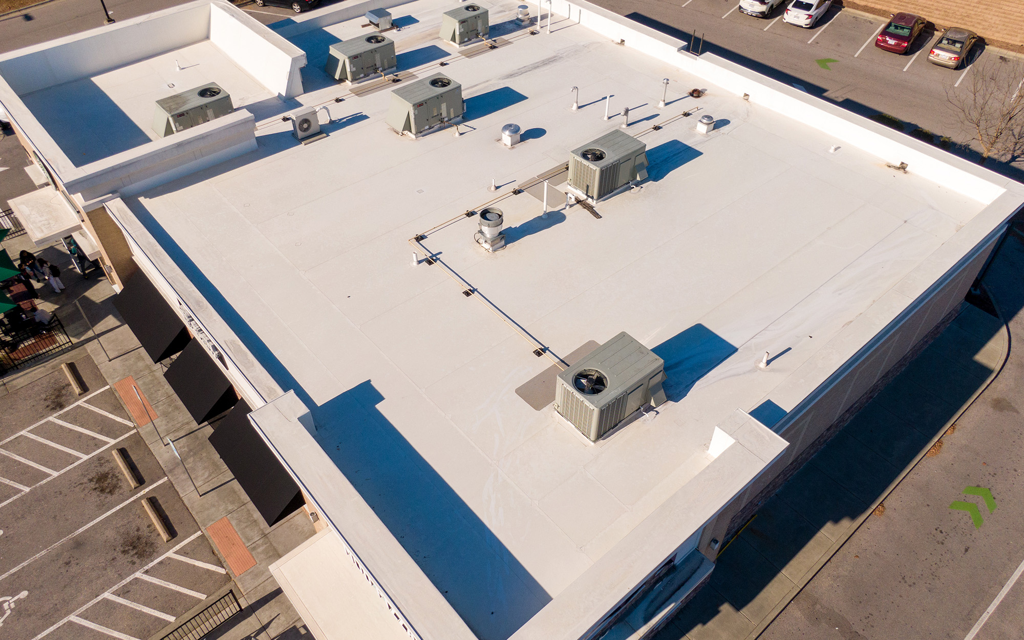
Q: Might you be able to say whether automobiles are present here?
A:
Yes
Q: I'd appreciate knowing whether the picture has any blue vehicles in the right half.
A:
No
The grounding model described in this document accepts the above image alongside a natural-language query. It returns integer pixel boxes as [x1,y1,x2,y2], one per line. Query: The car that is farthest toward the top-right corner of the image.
[930,27,980,66]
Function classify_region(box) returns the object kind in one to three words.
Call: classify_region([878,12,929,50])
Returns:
car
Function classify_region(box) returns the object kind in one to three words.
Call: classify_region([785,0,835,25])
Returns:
car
